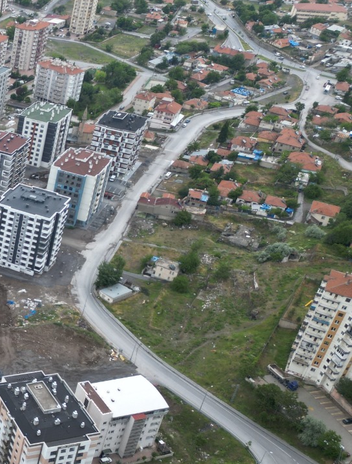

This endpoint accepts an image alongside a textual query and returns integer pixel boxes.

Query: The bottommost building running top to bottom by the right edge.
[292,266,352,389]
